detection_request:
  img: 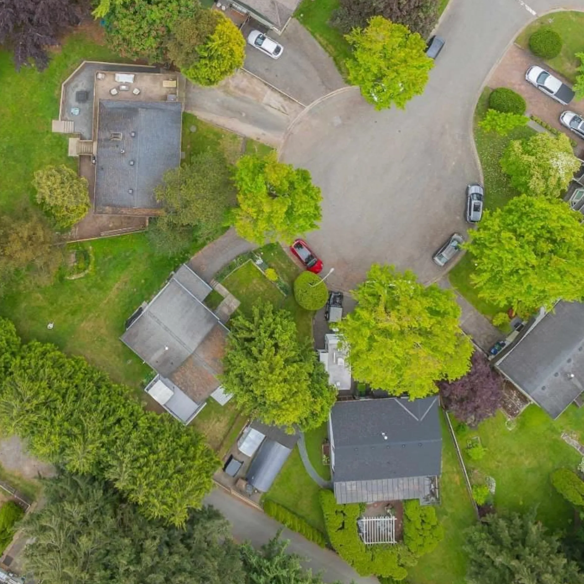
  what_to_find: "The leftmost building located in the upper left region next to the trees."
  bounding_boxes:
[52,60,186,218]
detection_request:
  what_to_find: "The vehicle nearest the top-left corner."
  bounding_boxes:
[246,31,286,59]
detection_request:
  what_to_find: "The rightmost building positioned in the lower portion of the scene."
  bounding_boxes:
[485,310,584,420]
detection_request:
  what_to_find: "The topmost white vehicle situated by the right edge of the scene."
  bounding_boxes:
[525,66,577,107]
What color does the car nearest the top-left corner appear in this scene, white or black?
white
